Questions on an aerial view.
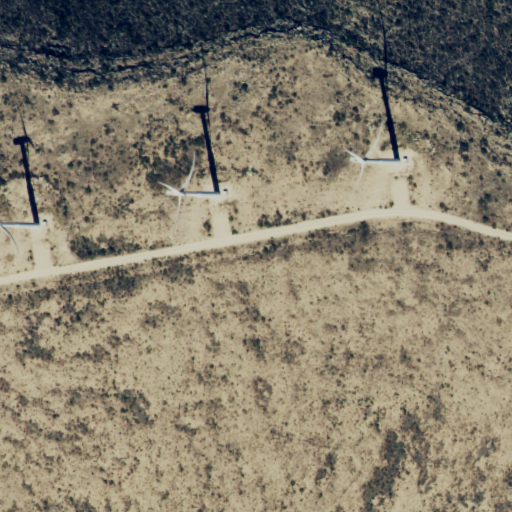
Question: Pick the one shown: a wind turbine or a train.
wind turbine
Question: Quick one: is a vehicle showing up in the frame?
No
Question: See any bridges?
No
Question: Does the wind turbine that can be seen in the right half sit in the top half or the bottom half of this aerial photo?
top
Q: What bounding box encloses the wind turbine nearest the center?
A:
[152,154,221,236]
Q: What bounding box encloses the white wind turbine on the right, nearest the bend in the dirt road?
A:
[340,124,402,202]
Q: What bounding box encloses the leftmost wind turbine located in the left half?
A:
[0,220,41,250]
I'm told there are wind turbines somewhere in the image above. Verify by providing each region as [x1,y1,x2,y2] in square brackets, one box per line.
[152,154,221,236]
[0,220,41,250]
[340,124,402,202]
